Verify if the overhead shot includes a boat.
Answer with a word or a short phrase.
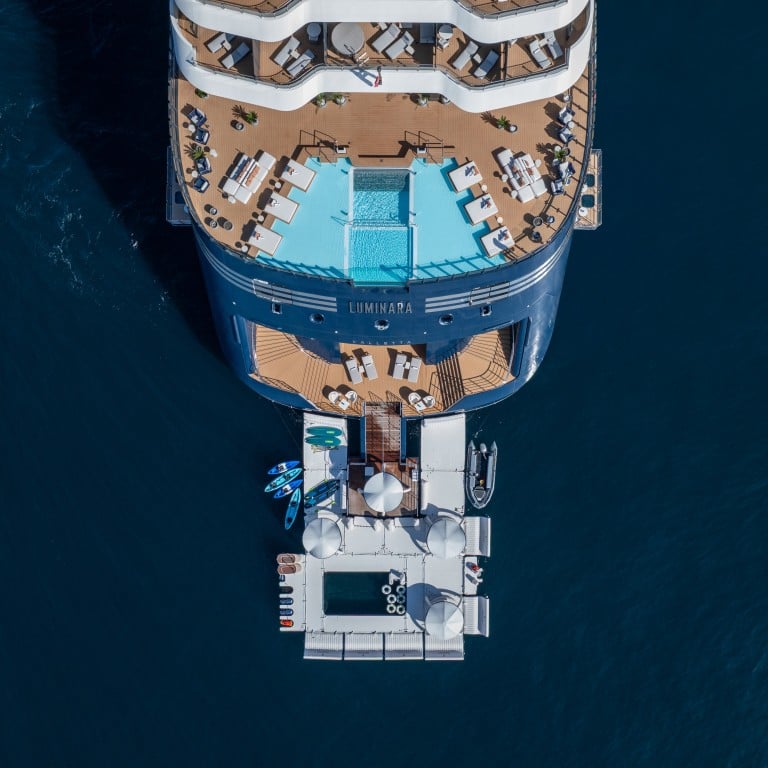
Yes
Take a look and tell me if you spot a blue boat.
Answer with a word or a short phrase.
Yes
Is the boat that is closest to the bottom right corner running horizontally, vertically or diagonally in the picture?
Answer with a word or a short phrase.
vertically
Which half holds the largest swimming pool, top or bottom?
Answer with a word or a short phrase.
top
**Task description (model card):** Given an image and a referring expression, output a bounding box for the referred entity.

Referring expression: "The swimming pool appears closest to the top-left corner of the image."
[256,157,504,287]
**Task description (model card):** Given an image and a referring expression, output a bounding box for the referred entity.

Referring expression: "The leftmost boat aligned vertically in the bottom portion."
[286,490,300,528]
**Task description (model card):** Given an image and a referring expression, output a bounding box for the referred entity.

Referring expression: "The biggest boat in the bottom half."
[466,440,497,508]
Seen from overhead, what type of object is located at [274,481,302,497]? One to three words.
boat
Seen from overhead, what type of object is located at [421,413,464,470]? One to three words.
pier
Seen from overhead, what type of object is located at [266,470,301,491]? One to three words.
boat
